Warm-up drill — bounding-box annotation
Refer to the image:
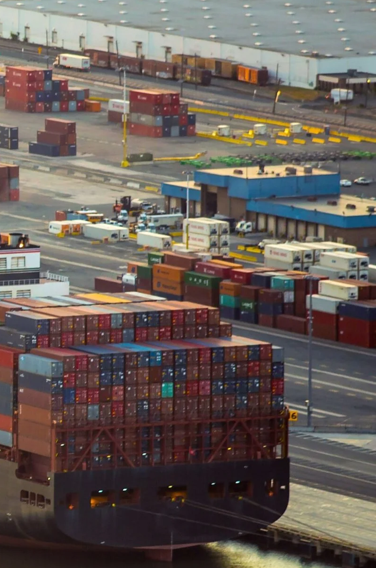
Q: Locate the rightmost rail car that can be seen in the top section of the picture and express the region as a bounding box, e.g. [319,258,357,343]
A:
[236,66,267,85]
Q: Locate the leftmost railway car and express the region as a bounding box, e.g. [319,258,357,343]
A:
[83,46,117,67]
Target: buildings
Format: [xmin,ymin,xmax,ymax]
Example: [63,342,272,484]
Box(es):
[0,0,376,90]
[161,164,376,251]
